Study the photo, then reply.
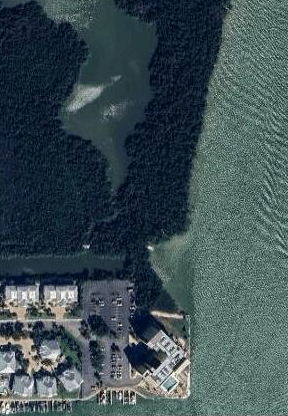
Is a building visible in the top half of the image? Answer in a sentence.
No, I see no building in the top half of the image.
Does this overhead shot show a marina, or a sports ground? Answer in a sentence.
The area seen from above is a marina.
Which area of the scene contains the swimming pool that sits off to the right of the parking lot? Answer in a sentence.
Look in the bottom portion of the view to spot the swimming pool that sits off to the right of the parking lot.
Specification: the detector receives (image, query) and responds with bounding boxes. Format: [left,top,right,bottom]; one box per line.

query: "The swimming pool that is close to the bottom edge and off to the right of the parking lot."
[158,372,181,395]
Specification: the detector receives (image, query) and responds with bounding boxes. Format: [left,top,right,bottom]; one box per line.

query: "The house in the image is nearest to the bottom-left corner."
[10,373,33,395]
